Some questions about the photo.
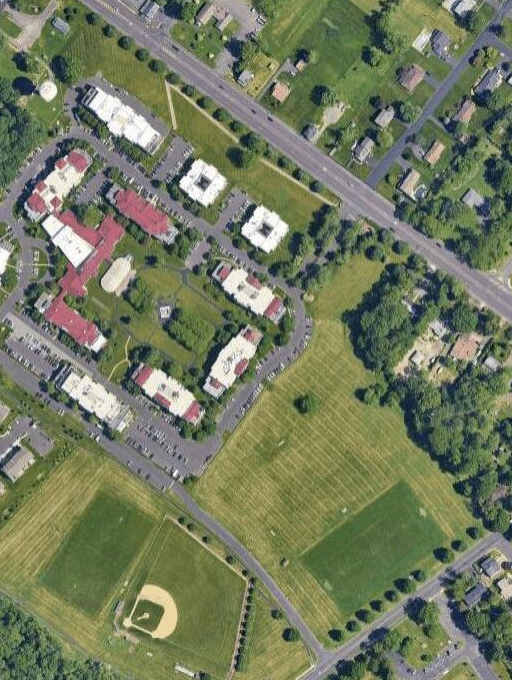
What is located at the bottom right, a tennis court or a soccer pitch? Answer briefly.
soccer pitch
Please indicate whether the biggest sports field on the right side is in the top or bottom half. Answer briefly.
bottom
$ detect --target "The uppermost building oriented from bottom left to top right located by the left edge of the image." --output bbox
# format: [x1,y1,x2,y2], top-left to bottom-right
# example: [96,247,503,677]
[24,149,94,224]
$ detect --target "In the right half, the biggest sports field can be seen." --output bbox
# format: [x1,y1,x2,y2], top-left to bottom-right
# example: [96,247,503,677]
[193,321,486,648]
